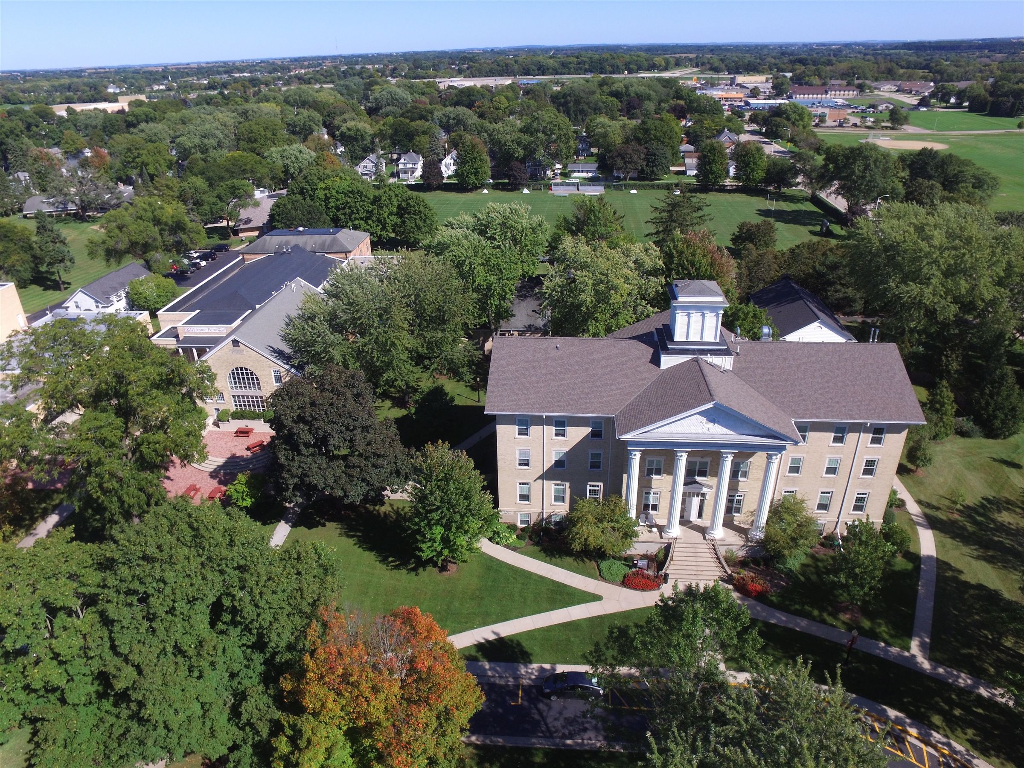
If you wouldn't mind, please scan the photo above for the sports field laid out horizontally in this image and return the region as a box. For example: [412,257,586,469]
[346,193,883,281]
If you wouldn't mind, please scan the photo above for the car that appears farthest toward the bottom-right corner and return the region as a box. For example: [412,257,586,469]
[540,667,604,702]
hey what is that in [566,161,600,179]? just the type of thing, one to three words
house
